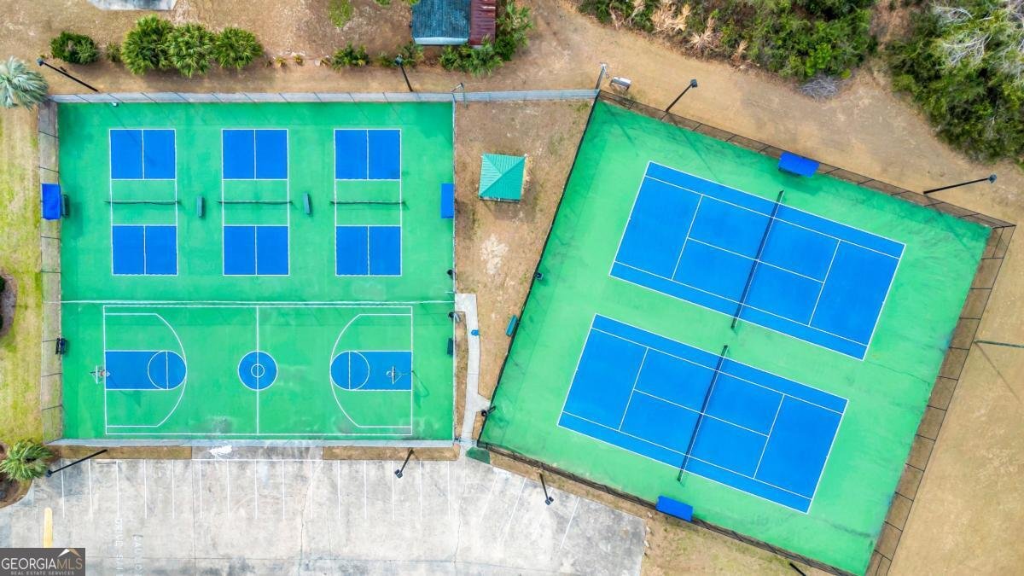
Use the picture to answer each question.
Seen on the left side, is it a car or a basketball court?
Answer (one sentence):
Visible on the left side is a basketball court.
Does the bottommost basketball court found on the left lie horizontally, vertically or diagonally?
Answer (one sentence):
In this picture, the bottommost basketball court found on the left is oriented horizontally.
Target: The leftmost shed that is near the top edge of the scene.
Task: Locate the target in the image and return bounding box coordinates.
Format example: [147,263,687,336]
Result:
[412,0,496,49]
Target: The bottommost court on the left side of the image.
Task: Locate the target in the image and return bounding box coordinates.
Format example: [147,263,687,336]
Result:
[103,306,412,435]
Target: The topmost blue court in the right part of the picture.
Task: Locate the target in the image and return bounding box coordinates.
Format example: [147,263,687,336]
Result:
[609,160,907,361]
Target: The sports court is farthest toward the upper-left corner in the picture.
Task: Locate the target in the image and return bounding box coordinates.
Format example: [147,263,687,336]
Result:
[110,129,177,275]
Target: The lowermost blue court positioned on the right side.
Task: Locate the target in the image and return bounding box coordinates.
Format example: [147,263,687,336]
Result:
[557,313,849,514]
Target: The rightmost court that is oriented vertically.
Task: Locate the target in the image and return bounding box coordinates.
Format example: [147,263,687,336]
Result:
[335,129,402,276]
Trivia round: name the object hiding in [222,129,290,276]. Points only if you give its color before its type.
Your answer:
blue sports court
